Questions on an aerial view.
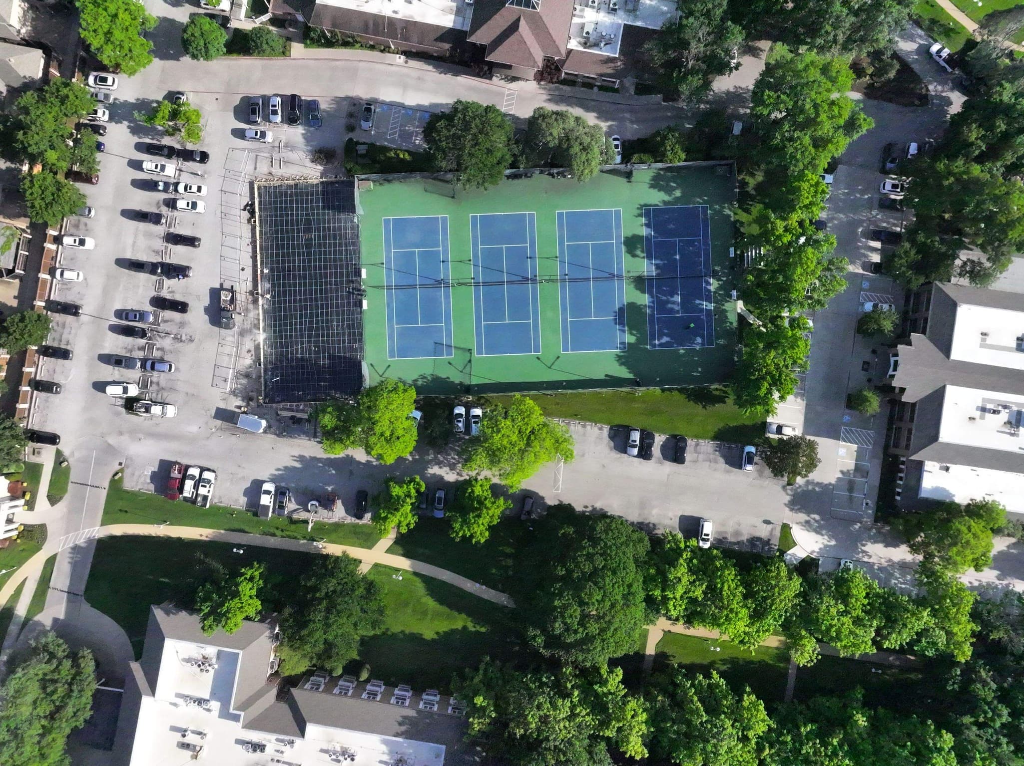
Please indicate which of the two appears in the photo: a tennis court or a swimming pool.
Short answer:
tennis court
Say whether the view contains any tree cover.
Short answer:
Yes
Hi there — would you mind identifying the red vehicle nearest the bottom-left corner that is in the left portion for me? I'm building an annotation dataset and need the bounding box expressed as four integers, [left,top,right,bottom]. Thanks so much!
[167,462,186,501]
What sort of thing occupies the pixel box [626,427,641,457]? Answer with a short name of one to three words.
car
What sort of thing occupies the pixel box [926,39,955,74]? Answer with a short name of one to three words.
truck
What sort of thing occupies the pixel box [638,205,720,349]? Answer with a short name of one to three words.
tennis court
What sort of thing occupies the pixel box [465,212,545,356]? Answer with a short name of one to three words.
tennis court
